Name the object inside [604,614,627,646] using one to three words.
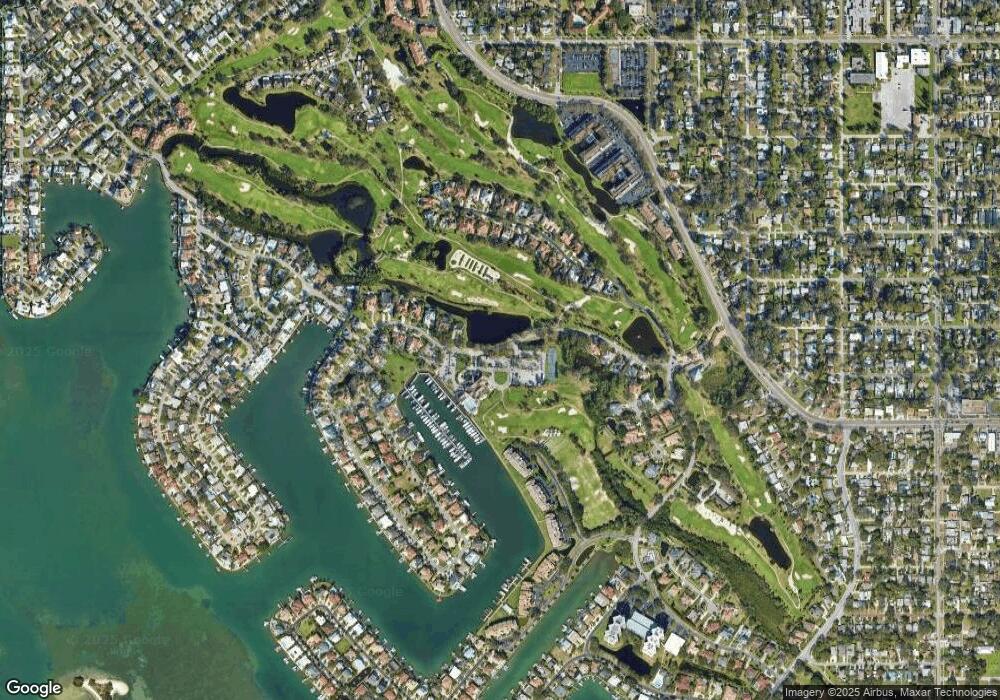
building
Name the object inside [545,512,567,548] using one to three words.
building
